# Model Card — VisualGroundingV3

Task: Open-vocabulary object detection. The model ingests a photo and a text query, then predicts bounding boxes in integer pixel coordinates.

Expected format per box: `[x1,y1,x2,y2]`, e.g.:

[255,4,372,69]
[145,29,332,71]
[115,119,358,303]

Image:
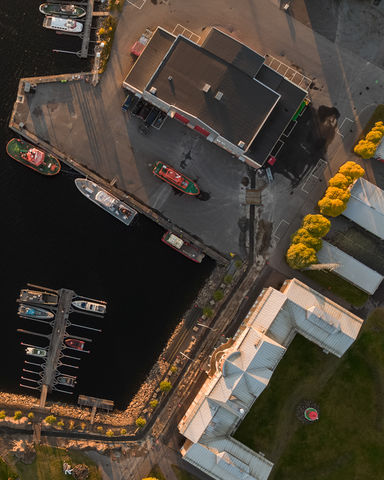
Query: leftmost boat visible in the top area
[6,140,61,176]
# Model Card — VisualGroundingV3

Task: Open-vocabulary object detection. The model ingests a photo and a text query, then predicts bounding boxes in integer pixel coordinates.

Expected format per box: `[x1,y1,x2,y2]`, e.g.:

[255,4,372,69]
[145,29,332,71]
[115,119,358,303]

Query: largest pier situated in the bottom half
[17,284,107,394]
